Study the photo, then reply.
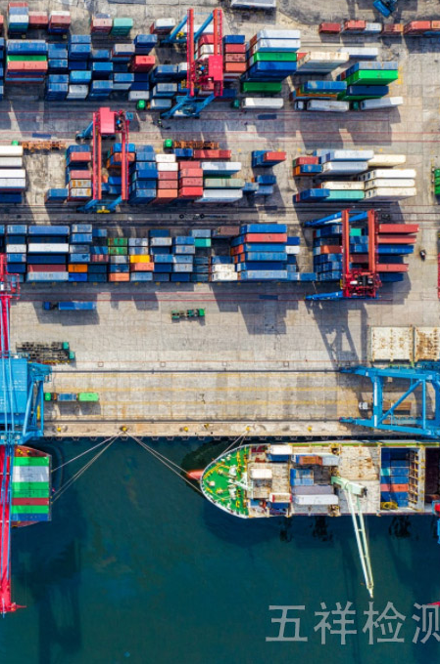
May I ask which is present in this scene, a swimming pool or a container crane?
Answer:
container crane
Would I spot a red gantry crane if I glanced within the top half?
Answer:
Yes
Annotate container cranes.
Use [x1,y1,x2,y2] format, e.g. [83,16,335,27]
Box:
[163,7,227,115]
[332,350,440,447]
[0,254,48,622]
[78,103,132,208]
[304,209,379,299]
